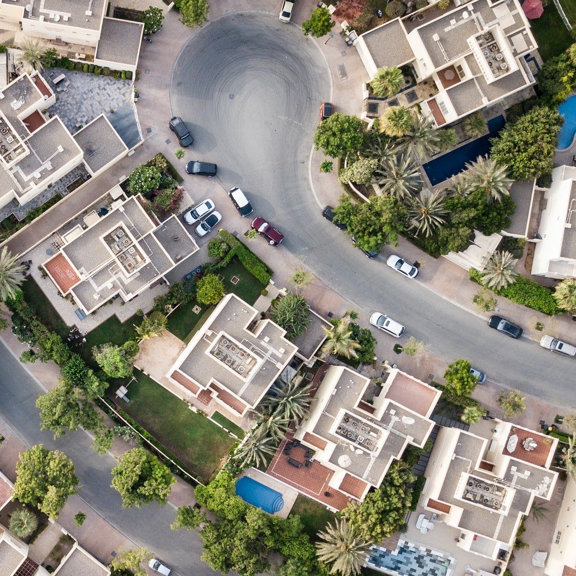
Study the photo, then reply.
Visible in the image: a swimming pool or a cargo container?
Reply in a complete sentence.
I can see a swimming pool in this picture.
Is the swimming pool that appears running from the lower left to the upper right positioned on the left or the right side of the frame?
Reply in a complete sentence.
The swimming pool that appears running from the lower left to the upper right appears in the right half of the scene.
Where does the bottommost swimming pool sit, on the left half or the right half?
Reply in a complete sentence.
The bottommost swimming pool appears in the right half of the scene.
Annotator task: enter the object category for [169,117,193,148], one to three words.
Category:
car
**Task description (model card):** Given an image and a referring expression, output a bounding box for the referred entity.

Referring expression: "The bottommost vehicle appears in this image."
[146,556,176,576]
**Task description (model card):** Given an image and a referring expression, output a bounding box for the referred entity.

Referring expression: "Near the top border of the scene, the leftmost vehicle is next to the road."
[276,0,298,25]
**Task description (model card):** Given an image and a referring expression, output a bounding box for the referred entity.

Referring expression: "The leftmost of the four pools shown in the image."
[231,471,289,514]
